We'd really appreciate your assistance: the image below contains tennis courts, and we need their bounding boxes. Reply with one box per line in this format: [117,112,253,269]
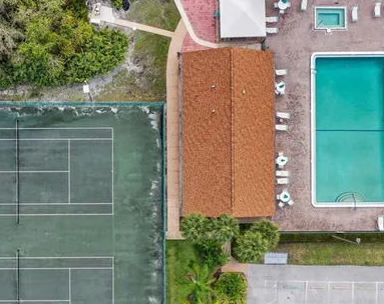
[0,108,164,236]
[0,236,164,304]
